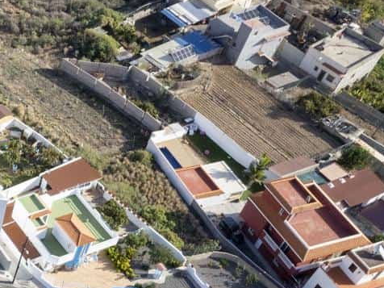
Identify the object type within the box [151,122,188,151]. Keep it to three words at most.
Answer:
building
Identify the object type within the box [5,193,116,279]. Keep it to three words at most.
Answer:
house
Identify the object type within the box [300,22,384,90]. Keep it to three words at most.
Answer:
house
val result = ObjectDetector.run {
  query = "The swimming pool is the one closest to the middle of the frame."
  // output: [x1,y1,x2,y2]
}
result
[161,149,184,171]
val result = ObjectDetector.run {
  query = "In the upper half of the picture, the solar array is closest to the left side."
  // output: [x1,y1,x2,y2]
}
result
[170,45,197,61]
